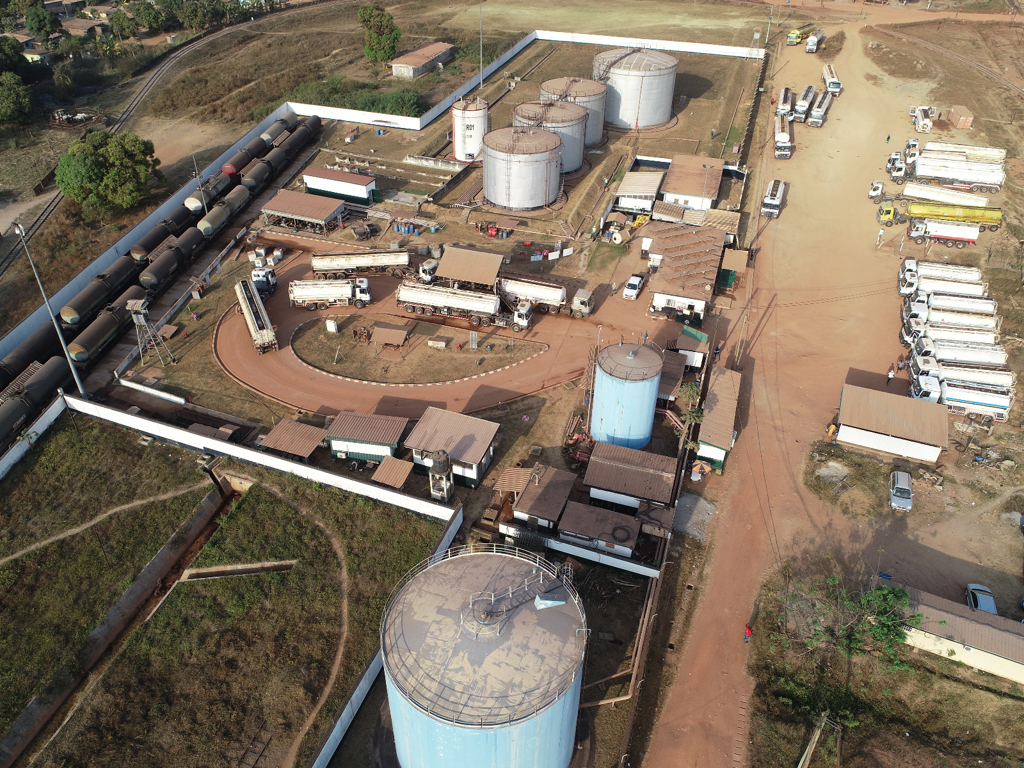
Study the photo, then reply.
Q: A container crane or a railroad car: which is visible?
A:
railroad car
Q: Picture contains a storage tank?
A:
Yes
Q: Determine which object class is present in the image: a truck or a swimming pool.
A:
truck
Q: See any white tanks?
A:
Yes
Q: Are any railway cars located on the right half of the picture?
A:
No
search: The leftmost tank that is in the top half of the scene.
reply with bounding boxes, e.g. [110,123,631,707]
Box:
[444,94,495,163]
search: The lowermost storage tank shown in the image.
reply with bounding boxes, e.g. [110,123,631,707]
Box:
[372,540,588,768]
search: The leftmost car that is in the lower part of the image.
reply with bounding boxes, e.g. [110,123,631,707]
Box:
[886,469,916,518]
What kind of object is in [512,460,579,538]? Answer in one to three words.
building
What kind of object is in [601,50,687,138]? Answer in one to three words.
storage tank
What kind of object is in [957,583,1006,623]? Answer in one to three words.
car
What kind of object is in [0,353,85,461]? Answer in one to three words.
rail car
